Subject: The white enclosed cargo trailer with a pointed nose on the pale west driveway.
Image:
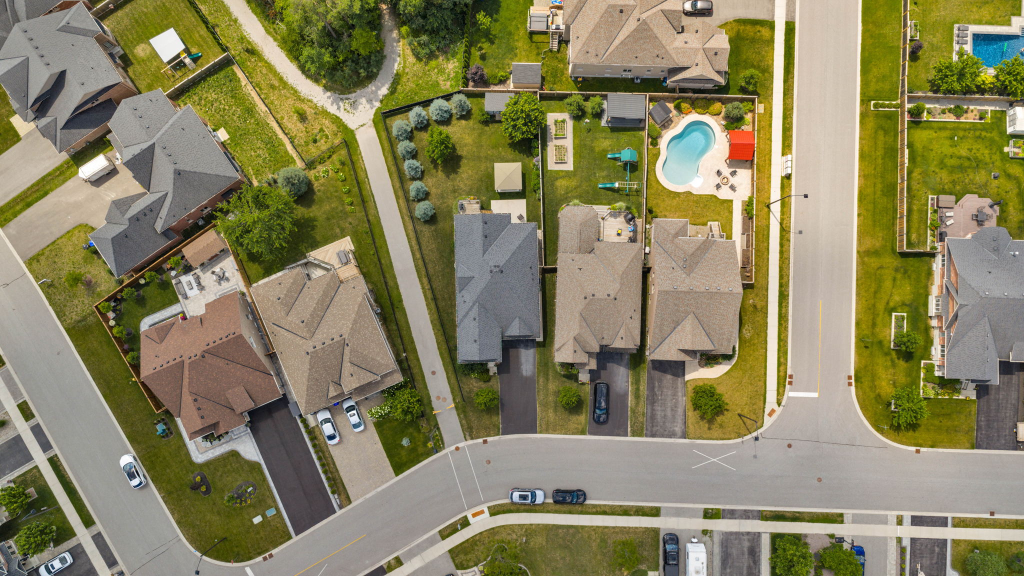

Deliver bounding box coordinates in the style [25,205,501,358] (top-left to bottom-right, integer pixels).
[74,150,118,183]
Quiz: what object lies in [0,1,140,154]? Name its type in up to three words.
house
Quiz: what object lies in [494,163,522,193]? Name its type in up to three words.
gazebo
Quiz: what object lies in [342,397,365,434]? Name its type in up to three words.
car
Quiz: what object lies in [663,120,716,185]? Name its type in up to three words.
swimming pool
